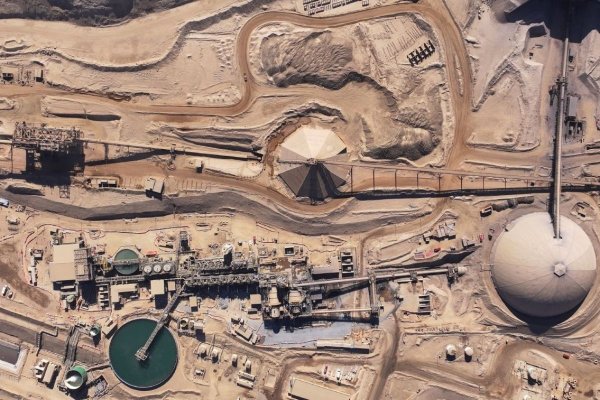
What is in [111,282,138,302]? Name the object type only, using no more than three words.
building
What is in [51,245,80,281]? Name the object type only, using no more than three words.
building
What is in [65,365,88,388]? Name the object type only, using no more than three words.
silo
